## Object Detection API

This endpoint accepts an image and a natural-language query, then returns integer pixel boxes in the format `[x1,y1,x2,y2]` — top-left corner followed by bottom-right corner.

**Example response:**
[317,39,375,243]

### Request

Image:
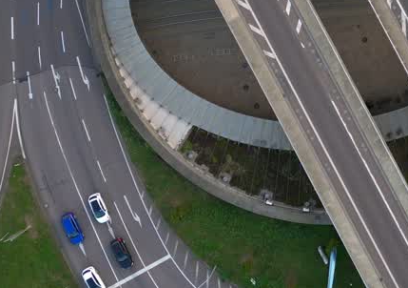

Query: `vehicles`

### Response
[61,212,84,244]
[108,237,132,268]
[84,192,108,223]
[80,267,106,288]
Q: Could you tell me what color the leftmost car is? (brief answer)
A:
blue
